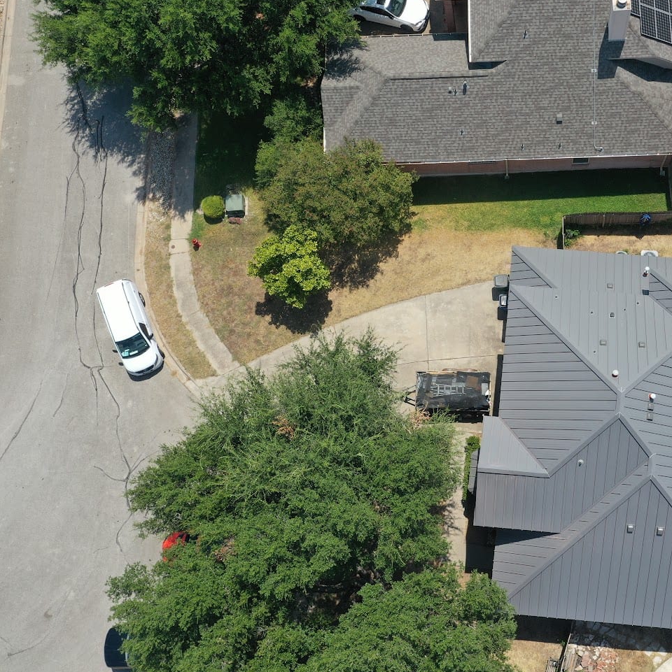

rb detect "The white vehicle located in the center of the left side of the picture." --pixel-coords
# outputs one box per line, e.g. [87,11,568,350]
[99,285,171,382]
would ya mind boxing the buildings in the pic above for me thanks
[321,0,672,190]
[474,245,672,629]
